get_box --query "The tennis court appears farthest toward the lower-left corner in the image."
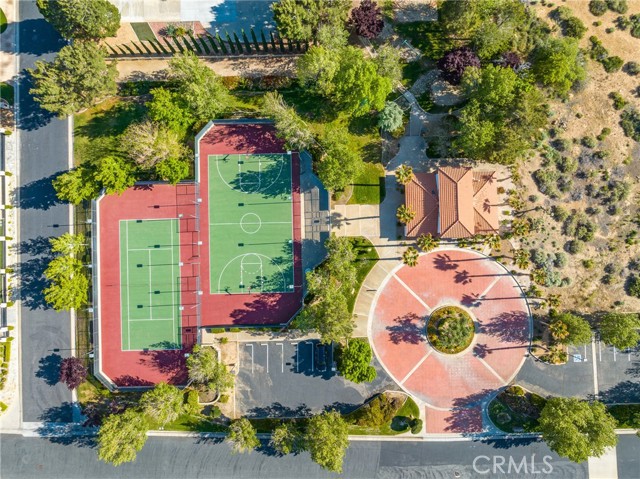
[98,181,201,388]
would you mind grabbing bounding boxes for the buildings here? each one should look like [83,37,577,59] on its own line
[404,166,501,238]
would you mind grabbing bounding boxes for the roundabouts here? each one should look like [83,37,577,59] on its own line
[368,247,532,411]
